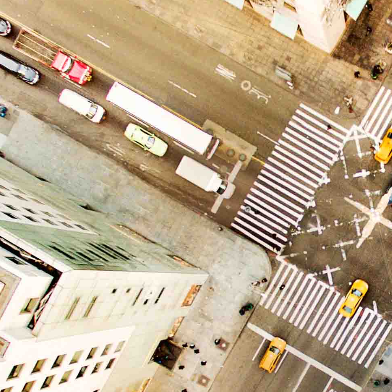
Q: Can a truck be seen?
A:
Yes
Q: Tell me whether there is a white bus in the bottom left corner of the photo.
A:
No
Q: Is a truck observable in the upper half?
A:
Yes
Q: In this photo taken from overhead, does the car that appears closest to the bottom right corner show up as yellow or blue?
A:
yellow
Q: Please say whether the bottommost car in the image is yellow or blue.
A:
yellow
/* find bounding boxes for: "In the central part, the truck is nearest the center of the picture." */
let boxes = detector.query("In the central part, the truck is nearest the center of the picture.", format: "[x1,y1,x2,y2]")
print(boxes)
[174,153,236,198]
